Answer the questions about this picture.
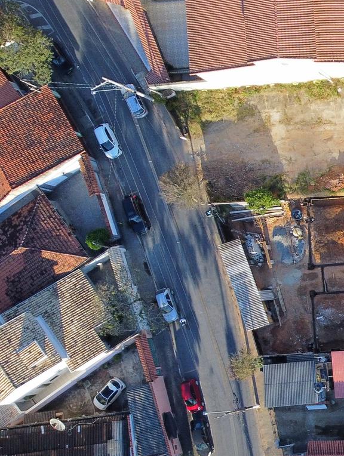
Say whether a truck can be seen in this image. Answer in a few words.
No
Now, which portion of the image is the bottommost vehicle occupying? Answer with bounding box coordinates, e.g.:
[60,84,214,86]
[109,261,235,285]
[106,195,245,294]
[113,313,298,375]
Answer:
[192,414,219,456]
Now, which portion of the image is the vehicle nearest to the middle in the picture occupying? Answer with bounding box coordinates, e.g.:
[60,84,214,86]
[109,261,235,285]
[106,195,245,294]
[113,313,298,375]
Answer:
[123,193,156,236]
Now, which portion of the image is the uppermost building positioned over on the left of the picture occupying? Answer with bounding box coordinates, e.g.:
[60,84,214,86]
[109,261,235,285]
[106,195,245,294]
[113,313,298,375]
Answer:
[0,61,102,211]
